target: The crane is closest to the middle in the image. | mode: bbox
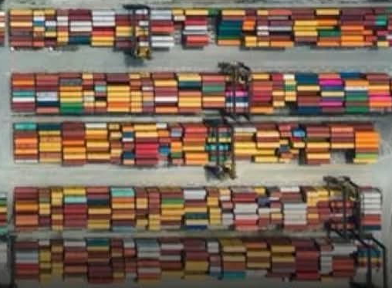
[191,113,231,185]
